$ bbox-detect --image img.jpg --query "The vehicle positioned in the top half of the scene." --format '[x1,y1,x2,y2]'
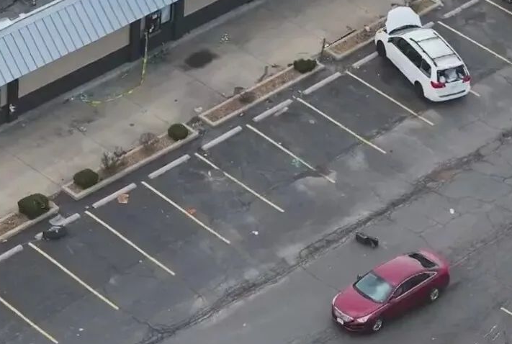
[376,2,478,98]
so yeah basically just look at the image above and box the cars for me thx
[332,245,453,331]
[376,2,478,98]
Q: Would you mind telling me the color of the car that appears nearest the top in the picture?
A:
white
